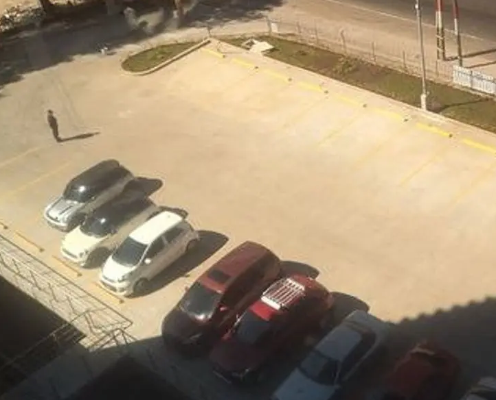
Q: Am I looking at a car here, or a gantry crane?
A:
car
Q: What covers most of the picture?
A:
paved ground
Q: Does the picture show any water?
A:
No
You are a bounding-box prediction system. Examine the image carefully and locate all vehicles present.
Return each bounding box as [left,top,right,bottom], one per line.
[363,345,461,400]
[101,212,206,295]
[271,310,394,400]
[211,271,333,383]
[63,189,167,266]
[164,245,292,356]
[47,159,145,229]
